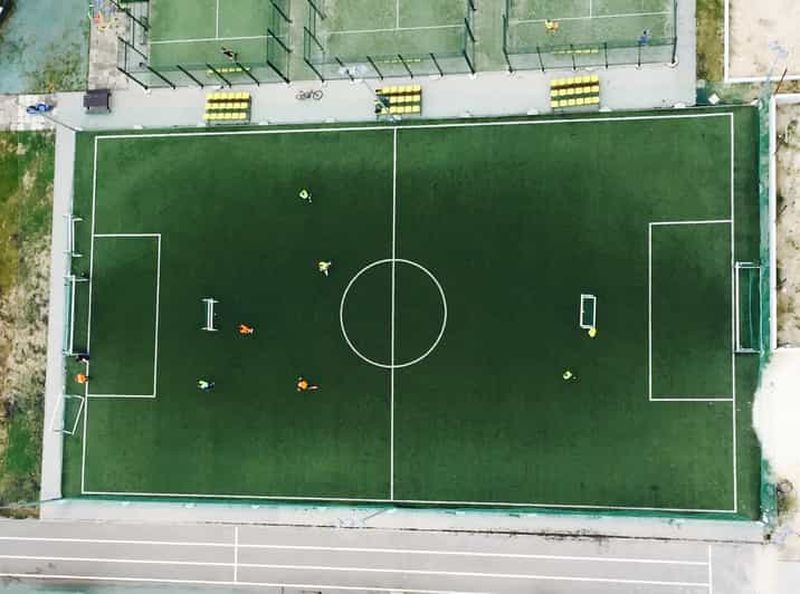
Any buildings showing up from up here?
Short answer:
No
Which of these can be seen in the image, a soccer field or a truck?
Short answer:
soccer field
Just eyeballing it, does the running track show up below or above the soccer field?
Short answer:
below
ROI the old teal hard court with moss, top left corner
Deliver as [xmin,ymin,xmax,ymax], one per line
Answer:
[0,0,91,95]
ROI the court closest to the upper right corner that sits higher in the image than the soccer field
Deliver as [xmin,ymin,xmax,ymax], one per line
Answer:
[511,0,673,71]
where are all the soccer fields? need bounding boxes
[62,106,762,521]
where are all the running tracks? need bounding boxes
[0,517,769,594]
